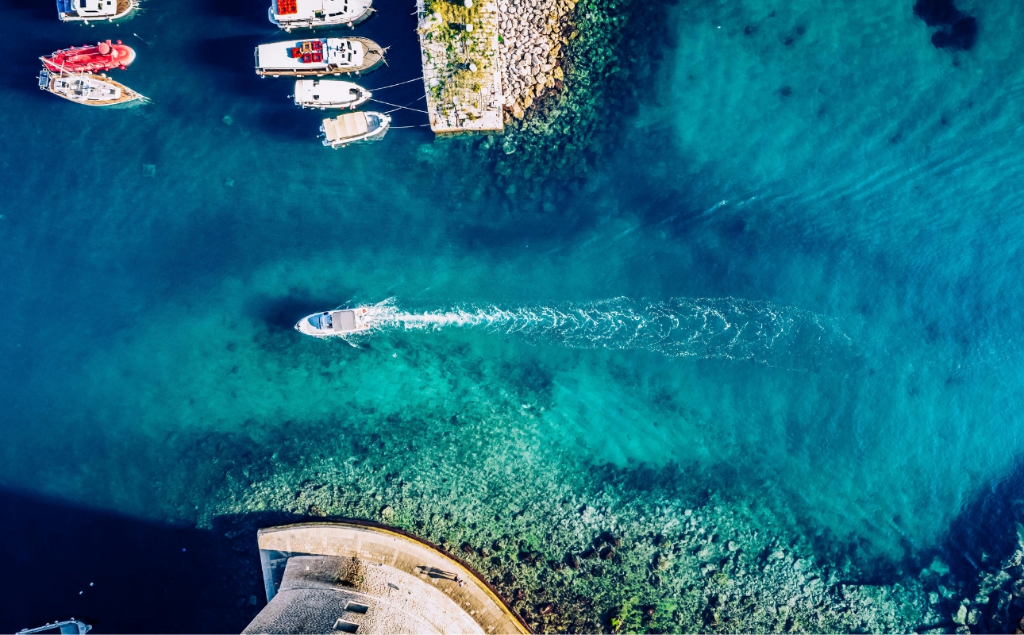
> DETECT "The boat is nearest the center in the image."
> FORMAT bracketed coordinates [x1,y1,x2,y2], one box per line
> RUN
[294,308,373,338]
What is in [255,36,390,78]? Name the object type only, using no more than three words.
boat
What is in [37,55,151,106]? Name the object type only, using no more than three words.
boat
